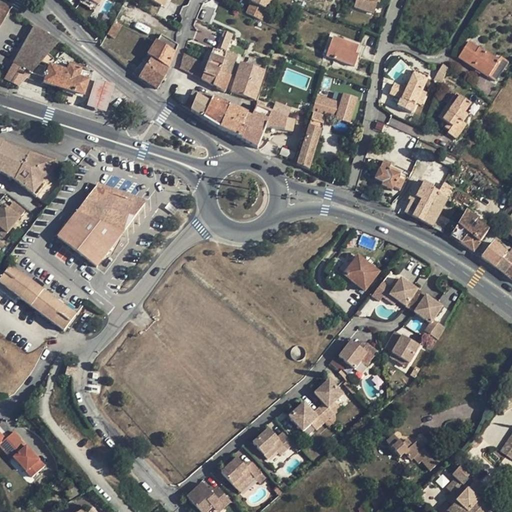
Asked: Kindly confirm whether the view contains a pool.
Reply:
Yes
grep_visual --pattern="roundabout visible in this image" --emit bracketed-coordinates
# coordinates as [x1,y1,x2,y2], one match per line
[196,150,290,243]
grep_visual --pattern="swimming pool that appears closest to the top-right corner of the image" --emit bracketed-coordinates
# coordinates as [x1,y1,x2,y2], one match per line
[388,58,406,80]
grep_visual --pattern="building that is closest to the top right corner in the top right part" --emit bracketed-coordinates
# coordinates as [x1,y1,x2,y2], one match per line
[459,42,509,80]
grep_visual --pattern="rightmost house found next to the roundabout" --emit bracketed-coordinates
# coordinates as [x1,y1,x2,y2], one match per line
[297,94,338,168]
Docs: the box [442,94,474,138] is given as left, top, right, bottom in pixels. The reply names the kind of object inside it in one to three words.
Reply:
house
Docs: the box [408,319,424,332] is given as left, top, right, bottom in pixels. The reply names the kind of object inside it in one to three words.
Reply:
swimming pool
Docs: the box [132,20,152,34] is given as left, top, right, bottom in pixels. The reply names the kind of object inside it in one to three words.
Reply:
vehicle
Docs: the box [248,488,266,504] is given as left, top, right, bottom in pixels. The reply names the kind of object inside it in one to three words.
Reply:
swimming pool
